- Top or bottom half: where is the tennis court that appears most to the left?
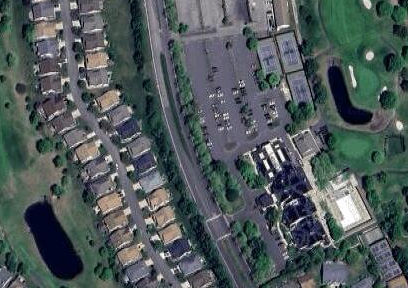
top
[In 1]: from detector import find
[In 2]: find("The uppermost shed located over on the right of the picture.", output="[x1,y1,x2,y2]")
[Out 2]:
[274,0,288,28]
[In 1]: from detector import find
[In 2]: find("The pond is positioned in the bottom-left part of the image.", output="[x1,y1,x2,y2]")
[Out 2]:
[25,200,83,279]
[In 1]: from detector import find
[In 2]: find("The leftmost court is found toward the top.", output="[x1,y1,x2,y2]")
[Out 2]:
[257,35,283,73]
